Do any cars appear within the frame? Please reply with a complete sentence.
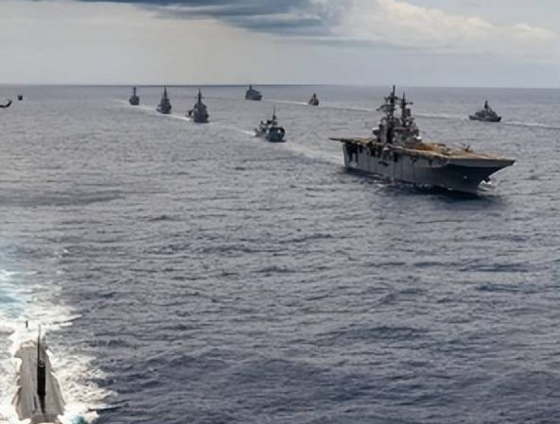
No, I find no car anywhere in the image.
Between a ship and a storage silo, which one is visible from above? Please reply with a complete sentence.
The one in the frame is a ship.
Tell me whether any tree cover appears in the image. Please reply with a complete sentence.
No, there's no tree cover in this view.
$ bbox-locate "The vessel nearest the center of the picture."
[260,105,287,143]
